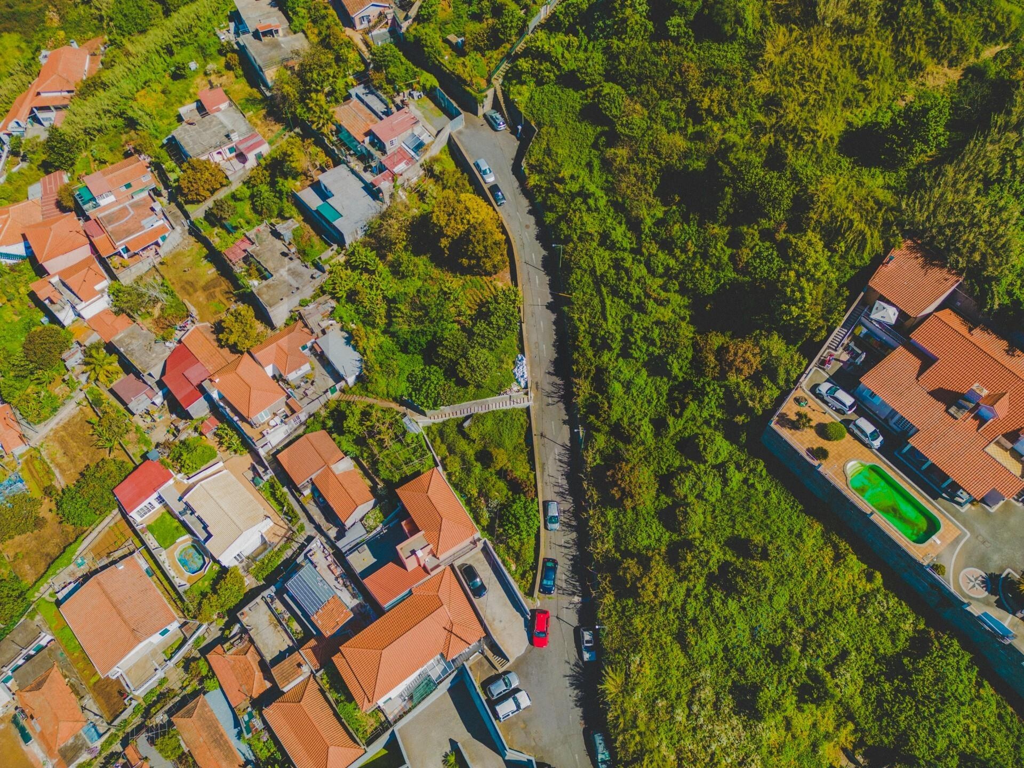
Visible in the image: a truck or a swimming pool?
swimming pool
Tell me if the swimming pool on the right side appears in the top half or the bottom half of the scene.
bottom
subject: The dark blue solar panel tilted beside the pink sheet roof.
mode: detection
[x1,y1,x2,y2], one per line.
[401,133,425,156]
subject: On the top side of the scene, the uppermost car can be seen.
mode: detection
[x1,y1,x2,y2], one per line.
[486,108,508,134]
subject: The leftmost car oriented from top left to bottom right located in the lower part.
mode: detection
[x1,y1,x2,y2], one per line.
[457,563,487,600]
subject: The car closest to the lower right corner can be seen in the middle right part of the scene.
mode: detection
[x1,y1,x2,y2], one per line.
[846,416,885,450]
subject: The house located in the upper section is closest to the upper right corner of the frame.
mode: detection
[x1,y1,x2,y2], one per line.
[857,238,963,333]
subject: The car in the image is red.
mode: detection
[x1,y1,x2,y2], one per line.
[530,610,549,651]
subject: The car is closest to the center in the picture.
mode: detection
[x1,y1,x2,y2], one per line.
[545,499,562,536]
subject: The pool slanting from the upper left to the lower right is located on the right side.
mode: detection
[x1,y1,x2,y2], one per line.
[843,456,946,548]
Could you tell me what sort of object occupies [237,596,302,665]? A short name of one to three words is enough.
house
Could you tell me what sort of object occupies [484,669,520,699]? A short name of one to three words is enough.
car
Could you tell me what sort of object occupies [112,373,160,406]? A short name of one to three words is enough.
shed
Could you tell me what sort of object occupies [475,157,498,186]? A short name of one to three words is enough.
car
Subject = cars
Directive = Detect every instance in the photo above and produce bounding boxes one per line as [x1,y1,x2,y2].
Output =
[484,669,520,699]
[494,694,532,726]
[590,730,609,768]
[579,627,597,668]
[475,157,498,186]
[530,610,549,651]
[846,416,885,450]
[486,108,508,134]
[539,558,558,598]
[545,499,562,536]
[487,182,509,209]
[814,382,858,416]
[457,563,487,600]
